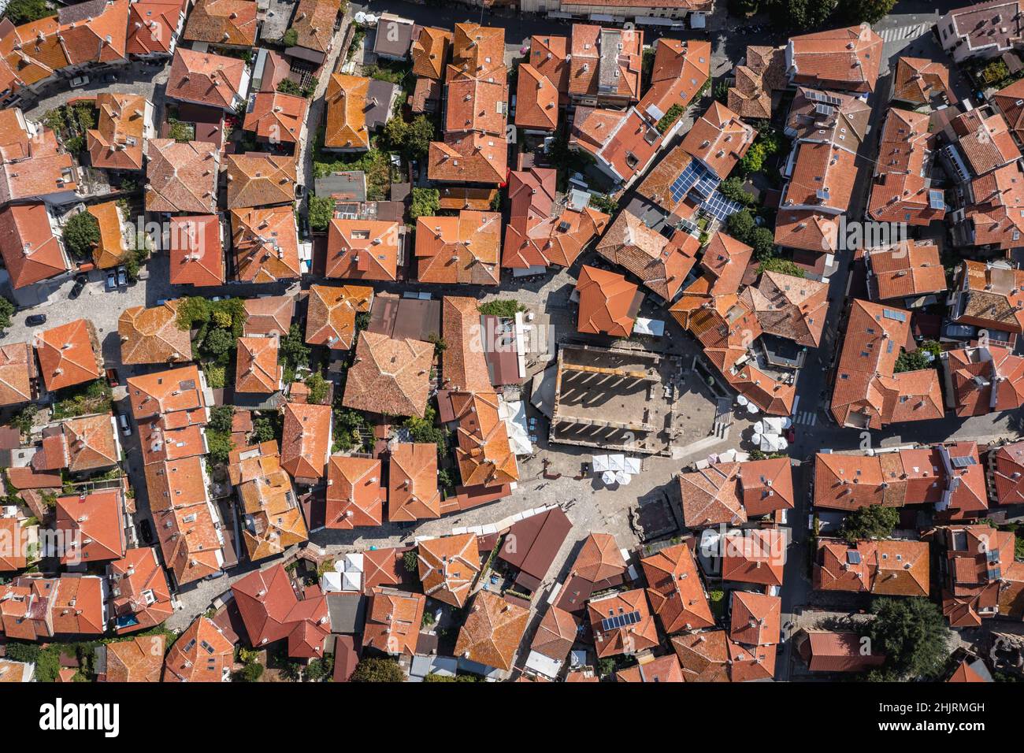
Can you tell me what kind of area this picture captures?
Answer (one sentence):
This looks like a residential area.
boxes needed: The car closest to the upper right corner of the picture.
[973,85,985,107]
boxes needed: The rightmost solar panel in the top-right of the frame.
[929,190,944,209]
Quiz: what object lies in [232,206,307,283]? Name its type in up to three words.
house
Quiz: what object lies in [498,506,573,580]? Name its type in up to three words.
building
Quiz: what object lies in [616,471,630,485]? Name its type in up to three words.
umbrella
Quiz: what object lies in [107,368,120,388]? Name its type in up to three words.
vehicle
